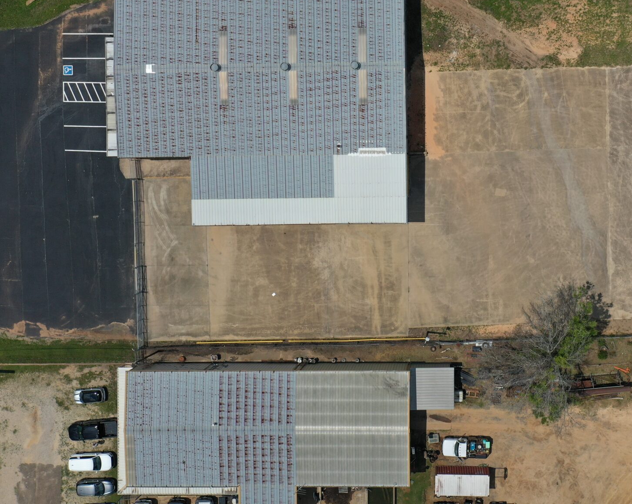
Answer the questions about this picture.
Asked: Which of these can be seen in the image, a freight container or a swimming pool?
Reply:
freight container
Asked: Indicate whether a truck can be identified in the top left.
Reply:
No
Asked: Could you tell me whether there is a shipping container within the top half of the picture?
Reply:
No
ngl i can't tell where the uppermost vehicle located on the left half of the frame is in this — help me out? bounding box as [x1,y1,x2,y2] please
[72,386,106,407]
